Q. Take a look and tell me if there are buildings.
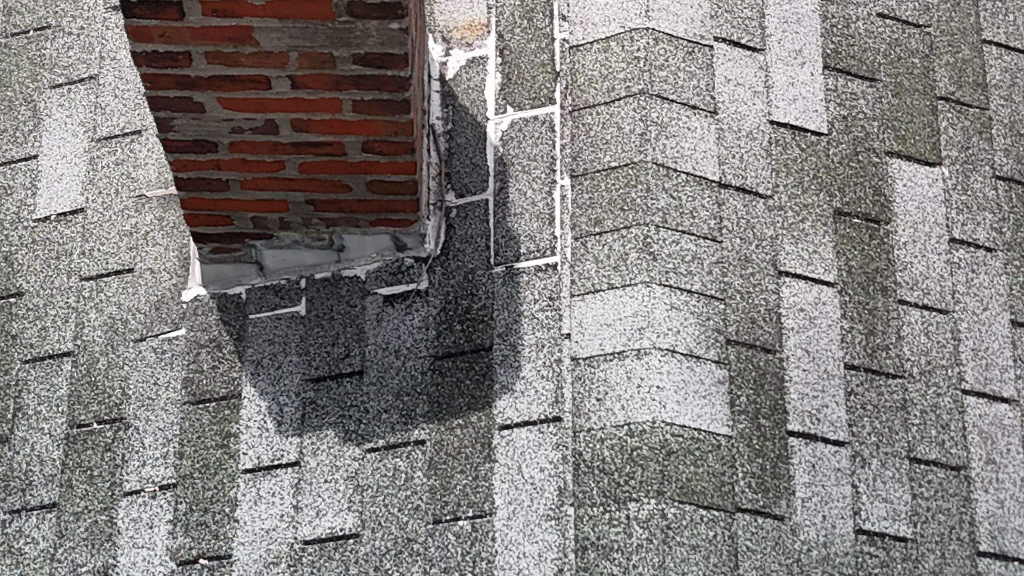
No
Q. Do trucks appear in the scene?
No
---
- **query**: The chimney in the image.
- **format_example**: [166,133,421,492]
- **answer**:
[118,0,443,296]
